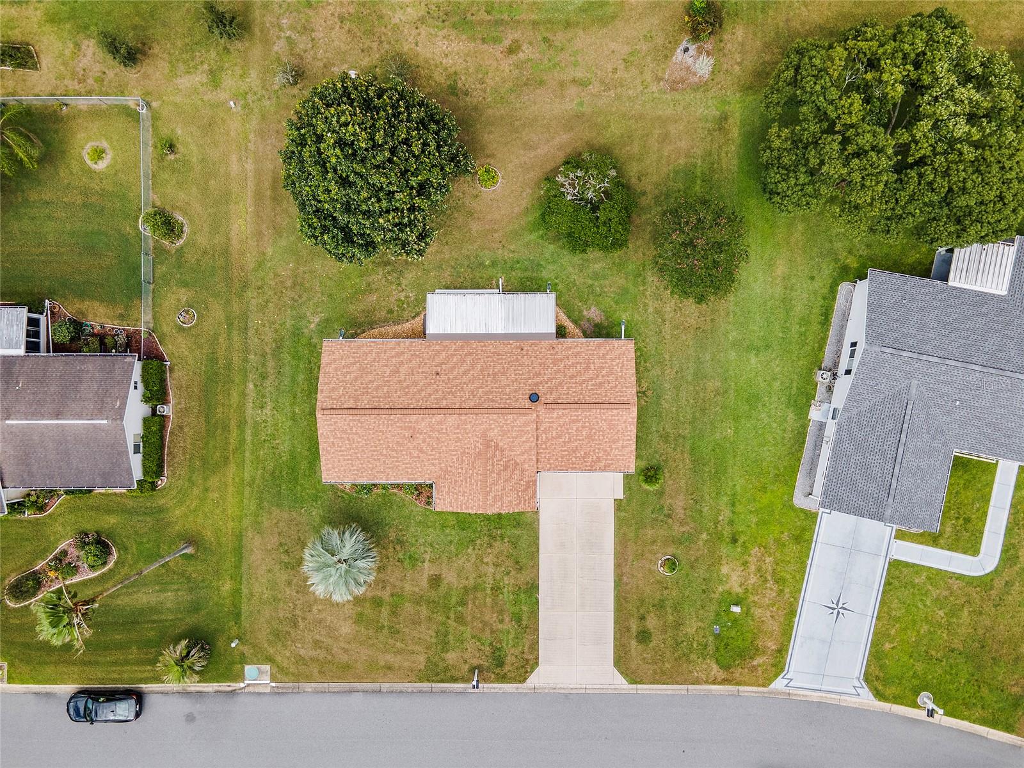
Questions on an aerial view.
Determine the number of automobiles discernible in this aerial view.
1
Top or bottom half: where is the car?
bottom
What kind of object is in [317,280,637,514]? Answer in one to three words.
house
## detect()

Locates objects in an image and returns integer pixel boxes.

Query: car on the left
[68,687,141,725]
